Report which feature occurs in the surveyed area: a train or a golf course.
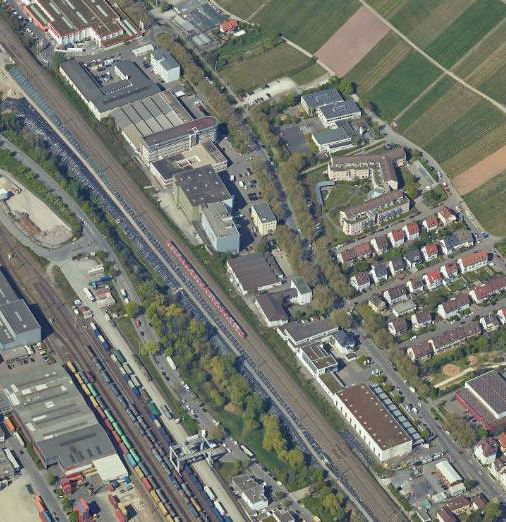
train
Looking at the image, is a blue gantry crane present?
No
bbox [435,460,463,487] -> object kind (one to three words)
shed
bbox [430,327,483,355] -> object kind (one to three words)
house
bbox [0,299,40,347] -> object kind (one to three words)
building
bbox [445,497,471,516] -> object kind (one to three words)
house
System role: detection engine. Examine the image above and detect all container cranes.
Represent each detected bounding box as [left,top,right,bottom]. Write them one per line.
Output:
[167,432,230,475]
